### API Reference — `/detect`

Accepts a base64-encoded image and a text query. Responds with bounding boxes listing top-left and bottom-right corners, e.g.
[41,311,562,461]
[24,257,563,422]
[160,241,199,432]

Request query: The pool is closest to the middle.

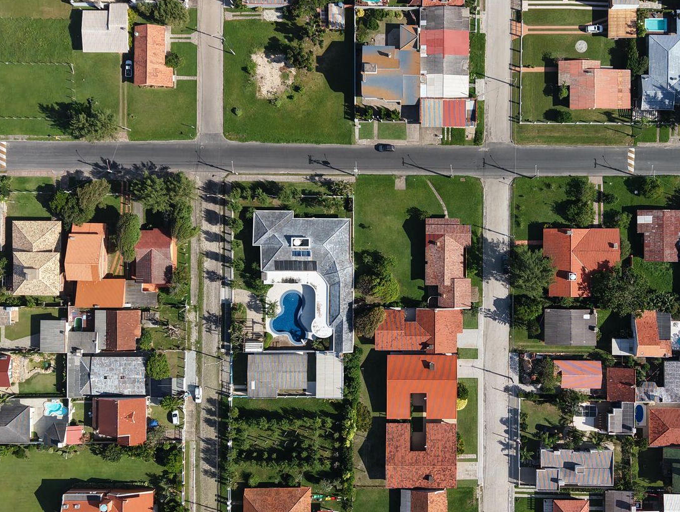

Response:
[269,288,308,344]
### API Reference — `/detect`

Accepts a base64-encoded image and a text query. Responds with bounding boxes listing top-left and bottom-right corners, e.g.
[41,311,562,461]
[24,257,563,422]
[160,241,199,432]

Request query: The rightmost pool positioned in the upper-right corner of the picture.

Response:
[644,16,668,33]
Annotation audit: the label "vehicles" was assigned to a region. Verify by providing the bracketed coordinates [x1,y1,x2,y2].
[376,143,394,152]
[172,409,180,427]
[585,25,604,33]
[502,257,509,274]
[194,385,204,403]
[124,58,133,79]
